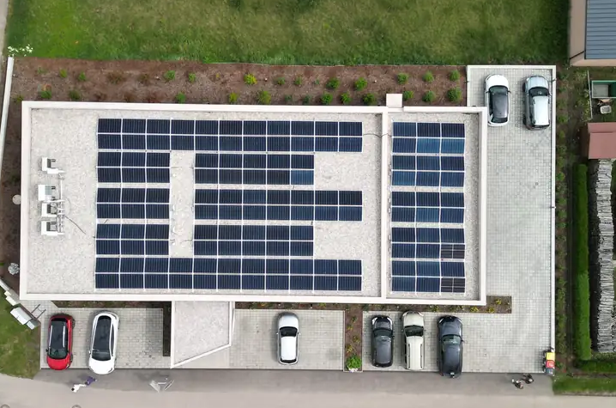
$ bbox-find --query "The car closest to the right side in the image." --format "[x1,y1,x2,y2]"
[522,75,552,129]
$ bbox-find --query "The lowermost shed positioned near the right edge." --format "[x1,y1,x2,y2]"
[582,121,616,159]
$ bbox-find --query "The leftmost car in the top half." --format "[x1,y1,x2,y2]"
[484,74,512,127]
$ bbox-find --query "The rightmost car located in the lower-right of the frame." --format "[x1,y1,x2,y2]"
[436,314,466,378]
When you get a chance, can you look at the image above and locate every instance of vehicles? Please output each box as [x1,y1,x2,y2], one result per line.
[484,74,512,127]
[87,311,119,374]
[401,310,427,370]
[436,314,466,378]
[45,314,75,368]
[522,75,552,129]
[369,315,396,367]
[275,311,302,365]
